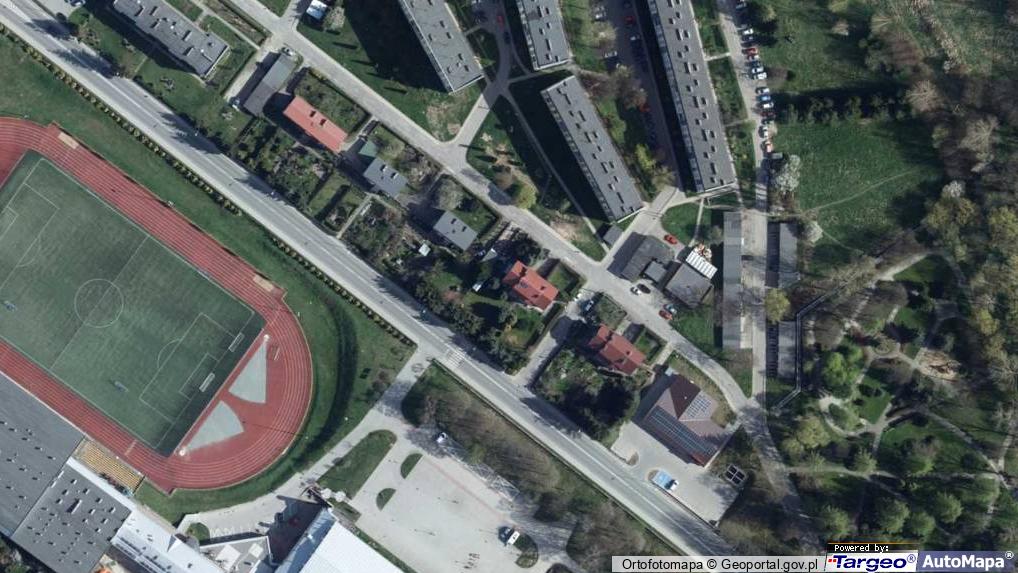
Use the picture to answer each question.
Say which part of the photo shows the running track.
left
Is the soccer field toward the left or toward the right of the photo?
left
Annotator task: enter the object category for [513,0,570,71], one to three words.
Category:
building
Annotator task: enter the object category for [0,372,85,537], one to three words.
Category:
building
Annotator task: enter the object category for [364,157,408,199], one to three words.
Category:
house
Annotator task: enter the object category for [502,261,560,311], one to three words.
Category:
house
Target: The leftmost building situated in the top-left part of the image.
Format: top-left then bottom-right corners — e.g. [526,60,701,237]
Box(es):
[108,0,229,79]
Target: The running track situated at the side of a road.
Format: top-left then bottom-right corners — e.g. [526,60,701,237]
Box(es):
[0,115,313,501]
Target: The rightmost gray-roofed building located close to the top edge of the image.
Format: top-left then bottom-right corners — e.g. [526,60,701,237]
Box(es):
[644,0,736,192]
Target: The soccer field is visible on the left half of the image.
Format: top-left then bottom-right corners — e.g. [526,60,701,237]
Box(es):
[0,147,267,459]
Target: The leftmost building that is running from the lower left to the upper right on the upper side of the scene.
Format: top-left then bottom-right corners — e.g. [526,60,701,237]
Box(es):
[243,54,293,116]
